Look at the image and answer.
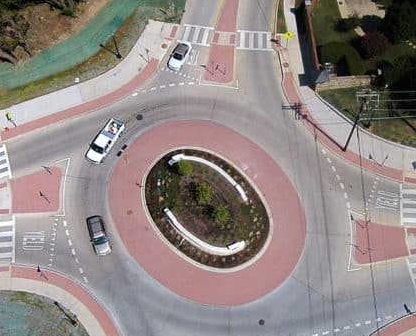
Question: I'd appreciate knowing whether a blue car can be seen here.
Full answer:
No, this view has no blue car in it.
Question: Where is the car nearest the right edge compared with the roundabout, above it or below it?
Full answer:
The car nearest the right edge is found above the roundabout in the photo.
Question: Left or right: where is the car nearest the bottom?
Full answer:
The car nearest the bottom is on the left side of the image.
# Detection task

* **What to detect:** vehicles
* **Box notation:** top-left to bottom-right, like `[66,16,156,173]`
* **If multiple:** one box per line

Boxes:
[84,213,113,257]
[86,118,127,165]
[165,39,193,73]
